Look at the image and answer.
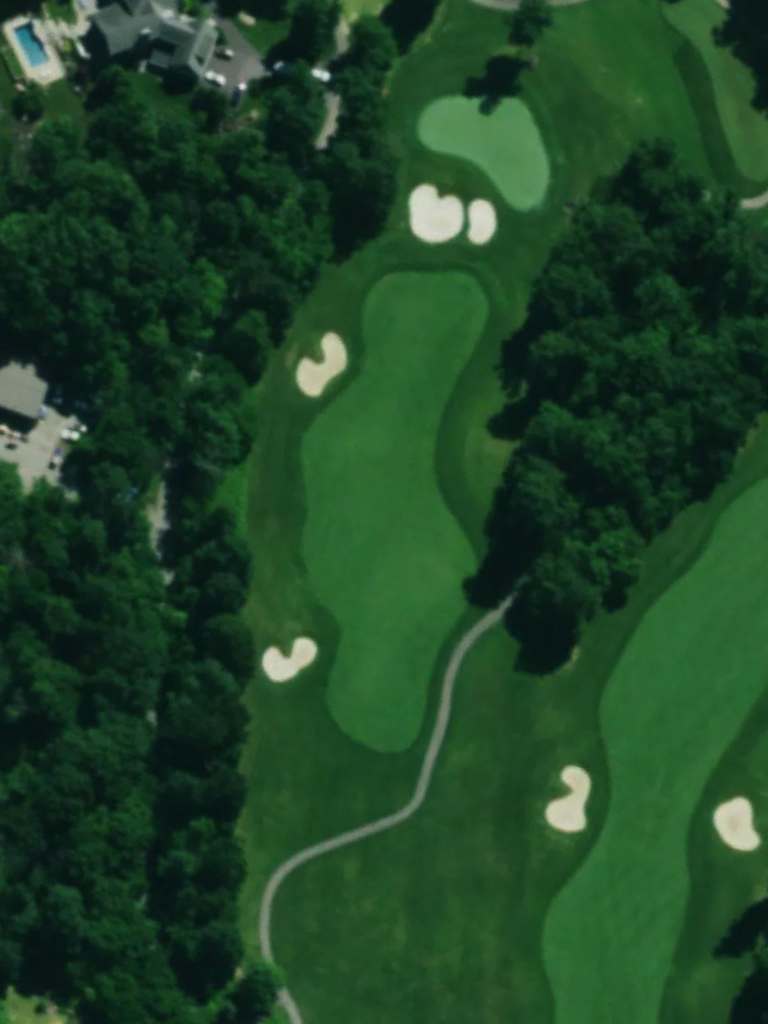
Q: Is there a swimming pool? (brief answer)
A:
Yes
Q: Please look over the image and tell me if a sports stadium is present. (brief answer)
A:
No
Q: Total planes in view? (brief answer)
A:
zero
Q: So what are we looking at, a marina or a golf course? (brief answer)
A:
golf course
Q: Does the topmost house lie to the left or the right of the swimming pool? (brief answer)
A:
on its right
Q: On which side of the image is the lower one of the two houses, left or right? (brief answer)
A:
left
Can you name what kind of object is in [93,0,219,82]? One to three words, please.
house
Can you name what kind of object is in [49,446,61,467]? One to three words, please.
vehicle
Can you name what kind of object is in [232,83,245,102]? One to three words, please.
vehicle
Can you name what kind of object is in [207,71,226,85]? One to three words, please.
car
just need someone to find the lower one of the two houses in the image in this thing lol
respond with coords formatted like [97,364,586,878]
[0,365,53,425]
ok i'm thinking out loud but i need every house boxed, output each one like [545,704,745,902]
[0,365,53,425]
[93,0,219,82]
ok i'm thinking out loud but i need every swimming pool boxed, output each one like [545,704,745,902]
[4,15,66,87]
